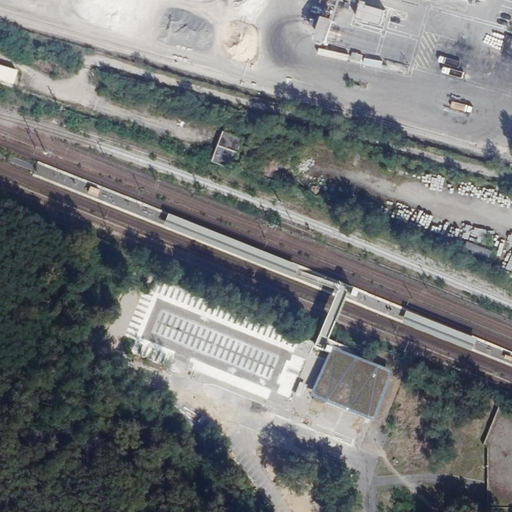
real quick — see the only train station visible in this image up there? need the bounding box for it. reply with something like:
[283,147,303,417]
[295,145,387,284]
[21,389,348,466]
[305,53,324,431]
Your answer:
[10,158,512,366]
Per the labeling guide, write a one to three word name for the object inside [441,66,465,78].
vehicle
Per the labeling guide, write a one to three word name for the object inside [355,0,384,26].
building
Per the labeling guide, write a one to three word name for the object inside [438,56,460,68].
vehicle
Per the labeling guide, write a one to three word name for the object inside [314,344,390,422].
building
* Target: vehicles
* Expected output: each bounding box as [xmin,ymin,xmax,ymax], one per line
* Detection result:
[446,101,473,112]
[496,18,508,25]
[438,56,460,68]
[500,13,512,20]
[390,17,401,22]
[441,66,465,78]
